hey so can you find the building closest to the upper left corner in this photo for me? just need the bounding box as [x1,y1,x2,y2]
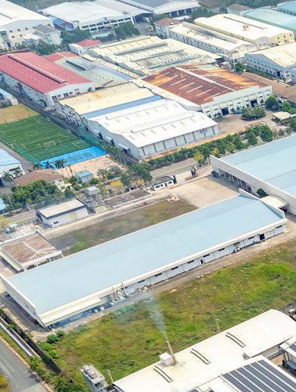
[0,9,54,45]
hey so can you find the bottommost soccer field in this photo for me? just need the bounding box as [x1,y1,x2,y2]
[0,114,92,160]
